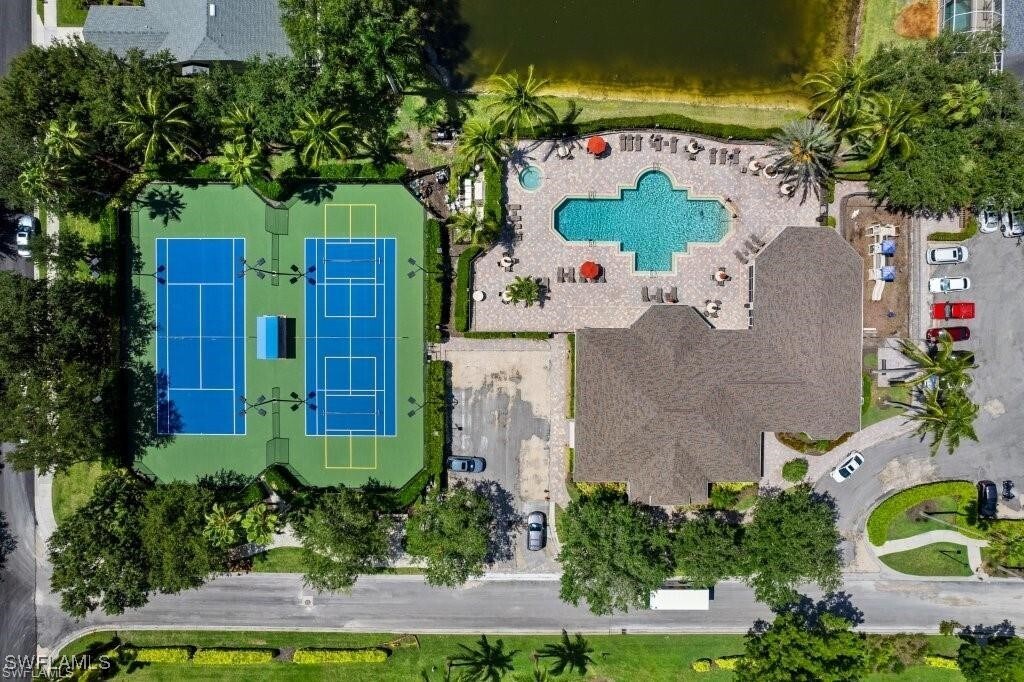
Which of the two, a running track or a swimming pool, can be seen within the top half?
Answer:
swimming pool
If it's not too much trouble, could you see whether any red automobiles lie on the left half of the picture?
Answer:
No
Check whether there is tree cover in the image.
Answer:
Yes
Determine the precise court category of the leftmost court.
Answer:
tennis court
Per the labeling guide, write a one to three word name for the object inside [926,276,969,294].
car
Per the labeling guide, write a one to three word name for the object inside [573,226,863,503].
building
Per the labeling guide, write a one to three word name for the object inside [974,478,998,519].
car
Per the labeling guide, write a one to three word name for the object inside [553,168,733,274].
swimming pool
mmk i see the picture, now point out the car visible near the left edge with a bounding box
[17,216,39,257]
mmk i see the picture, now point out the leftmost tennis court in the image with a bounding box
[131,183,424,488]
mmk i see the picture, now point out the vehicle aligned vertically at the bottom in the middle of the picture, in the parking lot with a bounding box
[527,509,546,550]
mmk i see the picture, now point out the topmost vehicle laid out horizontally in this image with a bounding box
[925,247,968,266]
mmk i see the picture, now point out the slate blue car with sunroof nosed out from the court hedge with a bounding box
[447,455,486,473]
